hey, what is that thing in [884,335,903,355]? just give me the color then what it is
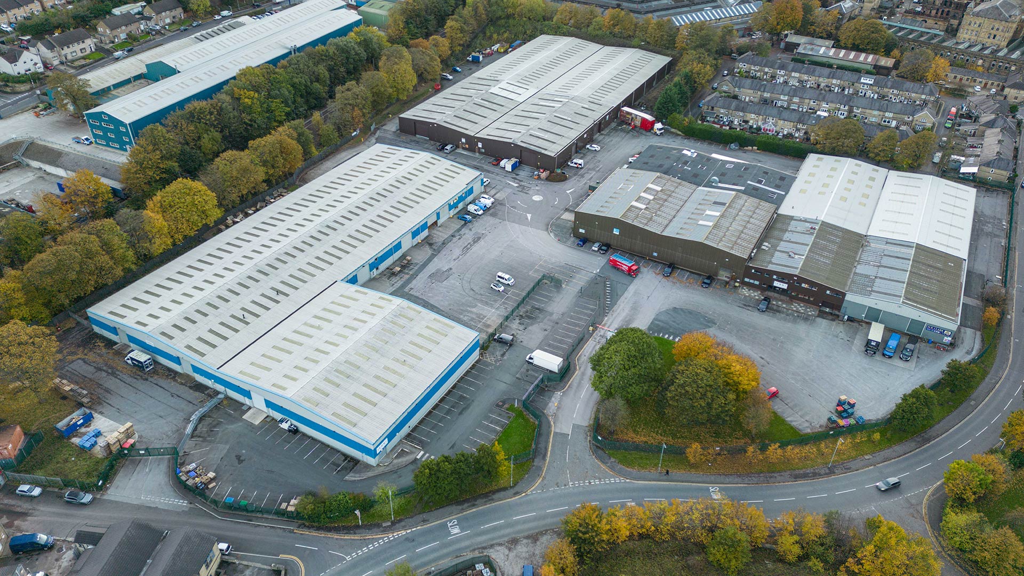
blue vehicle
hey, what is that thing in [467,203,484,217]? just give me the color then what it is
white vehicle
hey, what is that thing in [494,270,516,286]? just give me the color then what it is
white vehicle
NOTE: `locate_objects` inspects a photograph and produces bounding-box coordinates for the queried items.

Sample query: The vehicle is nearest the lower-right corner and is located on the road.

[876,477,902,492]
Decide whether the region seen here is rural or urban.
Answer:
urban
